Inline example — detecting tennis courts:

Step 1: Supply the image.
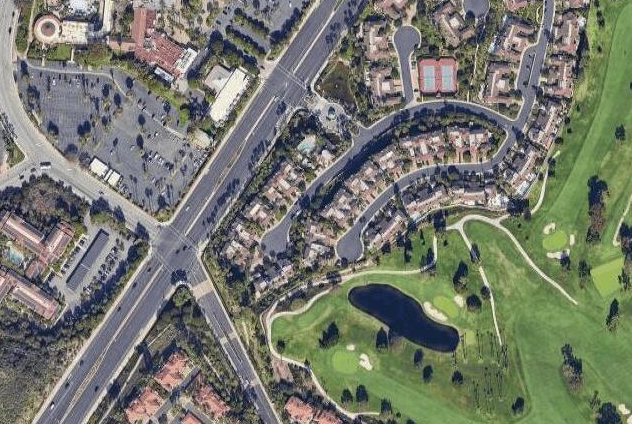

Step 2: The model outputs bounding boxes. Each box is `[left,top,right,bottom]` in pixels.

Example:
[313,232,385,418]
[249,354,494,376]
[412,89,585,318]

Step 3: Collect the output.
[418,58,438,93]
[438,58,457,93]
